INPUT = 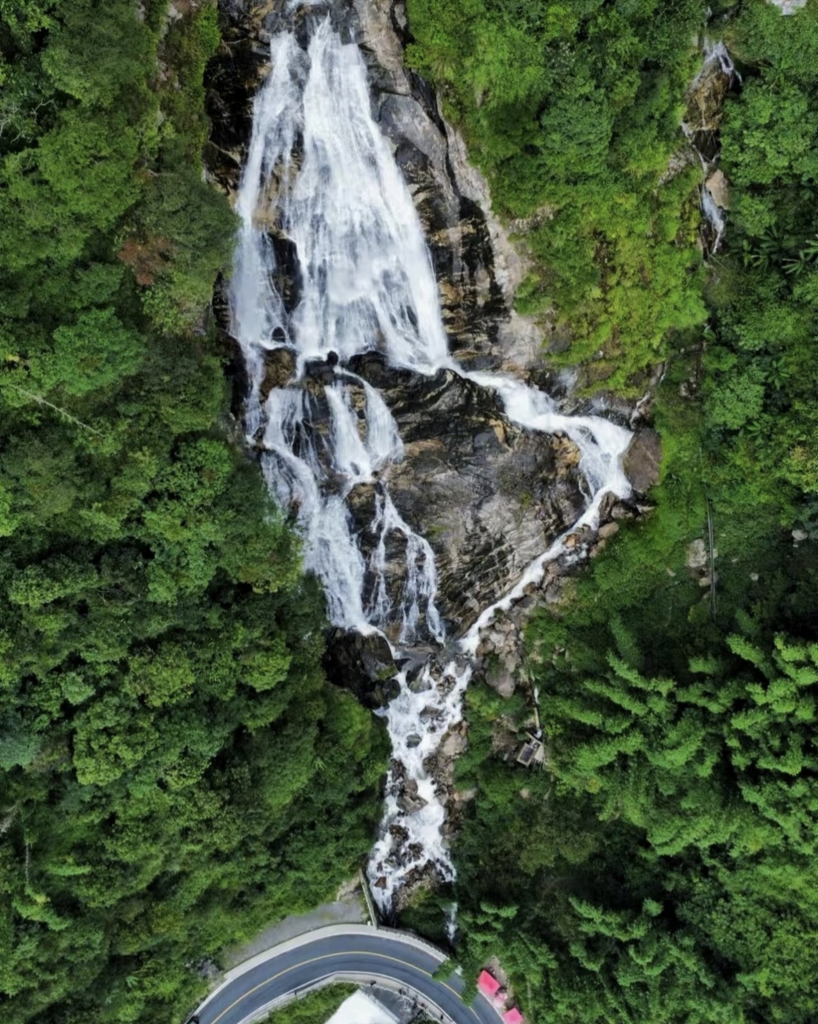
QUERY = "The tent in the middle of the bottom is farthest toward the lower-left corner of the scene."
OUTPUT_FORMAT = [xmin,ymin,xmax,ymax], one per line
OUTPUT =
[326,985,410,1024]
